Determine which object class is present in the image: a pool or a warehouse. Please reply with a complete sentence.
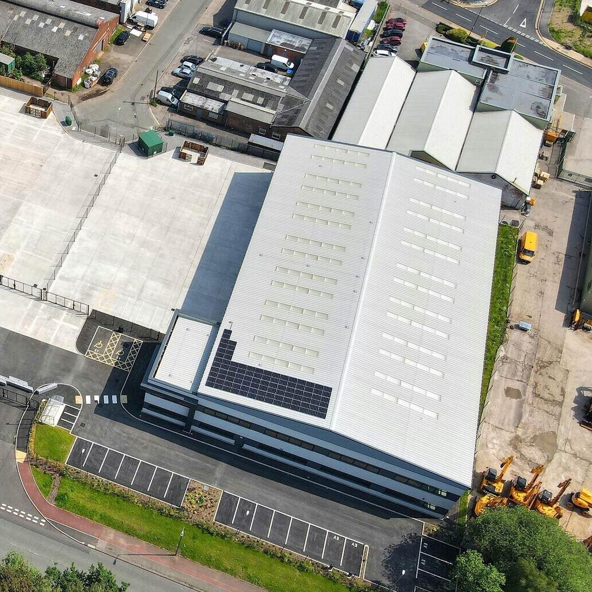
The image shows a warehouse.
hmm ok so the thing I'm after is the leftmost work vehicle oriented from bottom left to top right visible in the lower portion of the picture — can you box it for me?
[476,455,521,494]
